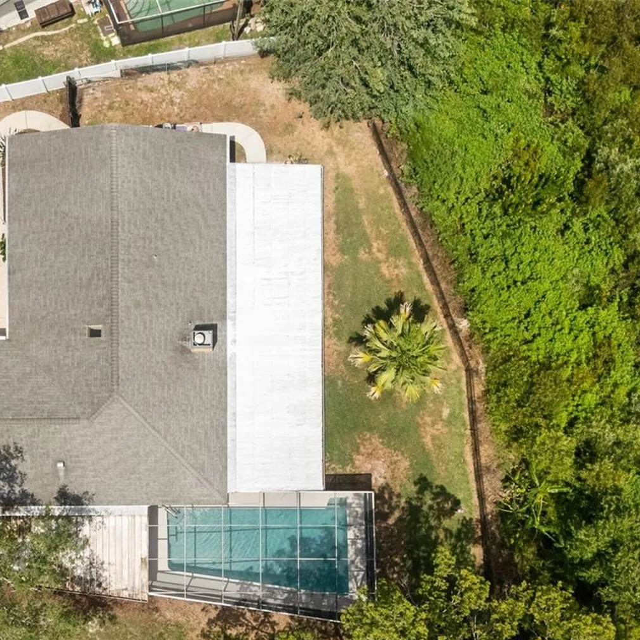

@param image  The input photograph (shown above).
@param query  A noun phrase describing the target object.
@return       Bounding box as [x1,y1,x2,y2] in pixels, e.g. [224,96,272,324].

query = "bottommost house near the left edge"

[0,124,229,507]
